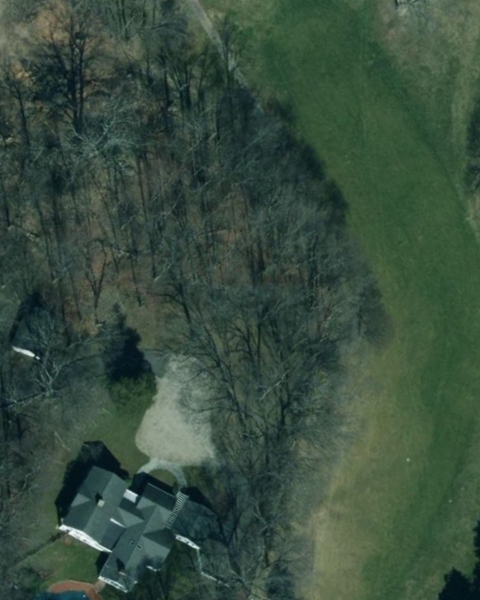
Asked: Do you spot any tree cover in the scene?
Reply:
Yes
